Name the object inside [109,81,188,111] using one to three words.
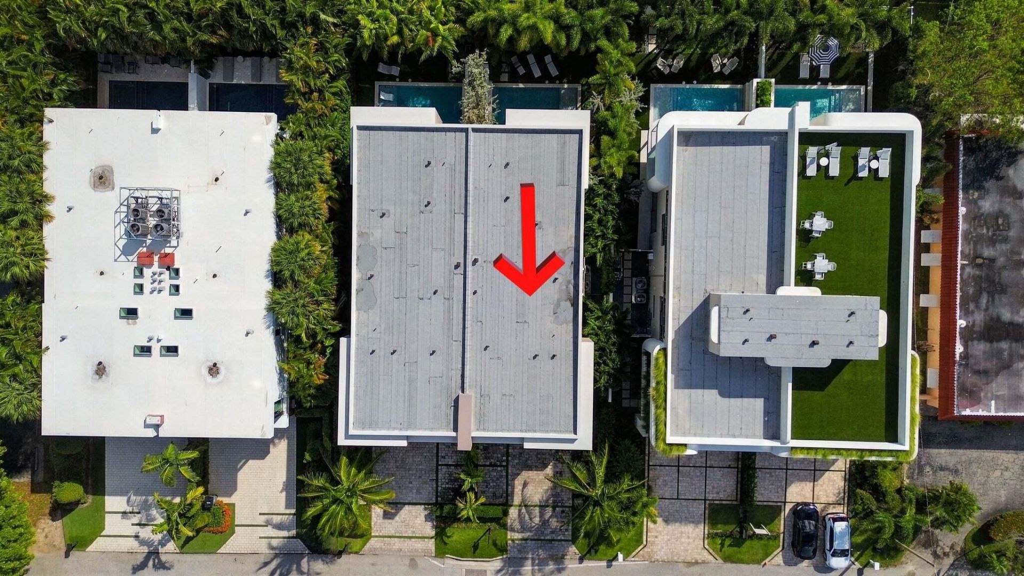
swimming pool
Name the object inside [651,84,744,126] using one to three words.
swimming pool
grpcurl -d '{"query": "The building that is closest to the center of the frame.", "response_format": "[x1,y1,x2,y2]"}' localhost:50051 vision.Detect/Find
[338,107,594,450]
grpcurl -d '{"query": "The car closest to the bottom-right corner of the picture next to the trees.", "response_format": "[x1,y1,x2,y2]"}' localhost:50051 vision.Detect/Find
[820,512,854,571]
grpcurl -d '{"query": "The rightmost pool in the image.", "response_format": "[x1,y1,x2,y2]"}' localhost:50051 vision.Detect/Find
[776,85,858,120]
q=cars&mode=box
[820,512,854,571]
[790,500,824,565]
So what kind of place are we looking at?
residential area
